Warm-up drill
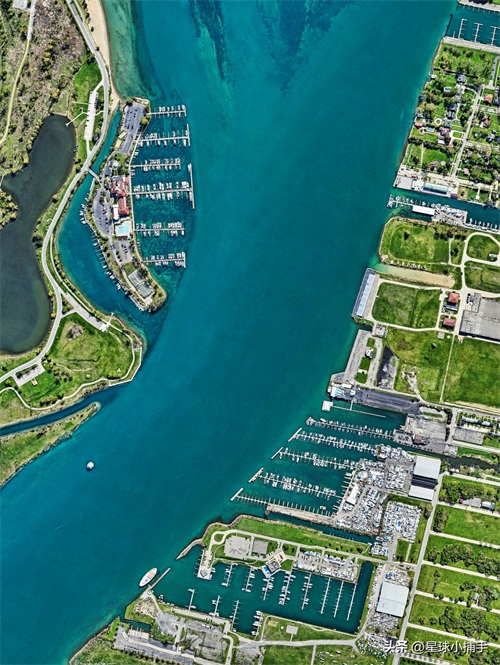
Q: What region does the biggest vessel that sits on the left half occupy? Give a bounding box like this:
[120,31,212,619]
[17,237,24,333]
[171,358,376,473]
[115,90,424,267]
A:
[141,569,156,585]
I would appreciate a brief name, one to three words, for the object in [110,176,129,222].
building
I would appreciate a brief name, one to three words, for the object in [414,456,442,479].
shed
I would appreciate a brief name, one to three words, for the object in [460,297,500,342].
building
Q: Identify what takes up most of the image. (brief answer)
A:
water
